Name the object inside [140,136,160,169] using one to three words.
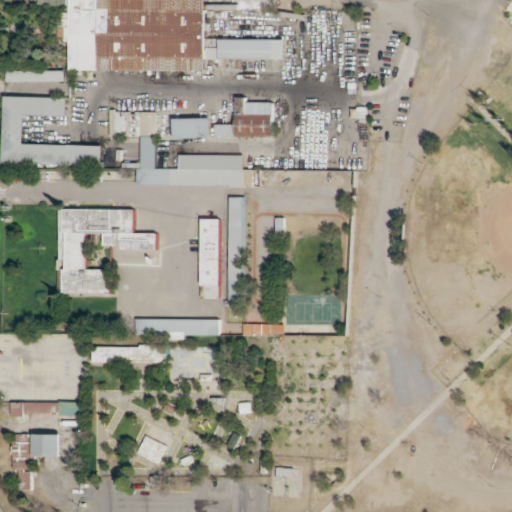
shed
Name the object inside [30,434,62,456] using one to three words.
building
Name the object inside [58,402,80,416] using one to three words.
house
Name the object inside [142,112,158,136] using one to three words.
building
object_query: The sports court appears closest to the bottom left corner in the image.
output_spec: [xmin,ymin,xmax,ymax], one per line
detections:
[172,348,216,380]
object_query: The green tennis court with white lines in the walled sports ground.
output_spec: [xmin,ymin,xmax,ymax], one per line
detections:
[286,295,341,324]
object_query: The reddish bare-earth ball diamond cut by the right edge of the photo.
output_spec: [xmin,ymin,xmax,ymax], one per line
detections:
[470,169,512,292]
